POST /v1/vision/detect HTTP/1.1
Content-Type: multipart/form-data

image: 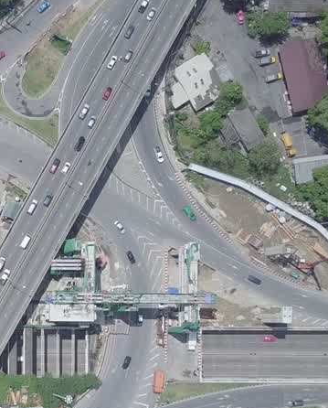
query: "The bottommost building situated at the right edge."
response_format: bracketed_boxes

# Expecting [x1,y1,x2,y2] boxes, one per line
[289,155,328,184]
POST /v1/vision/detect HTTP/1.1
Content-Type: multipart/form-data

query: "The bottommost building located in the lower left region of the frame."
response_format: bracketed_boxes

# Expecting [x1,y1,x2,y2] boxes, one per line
[42,302,96,321]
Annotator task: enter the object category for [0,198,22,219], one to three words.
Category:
building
